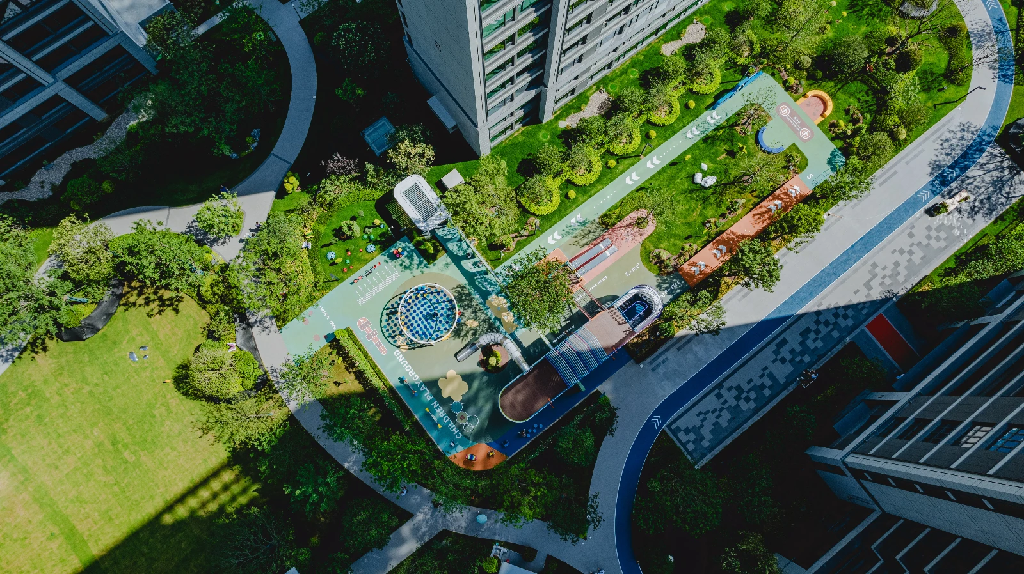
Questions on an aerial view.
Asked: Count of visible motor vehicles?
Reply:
0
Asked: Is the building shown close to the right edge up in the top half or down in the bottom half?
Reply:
bottom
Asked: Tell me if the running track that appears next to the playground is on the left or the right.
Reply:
right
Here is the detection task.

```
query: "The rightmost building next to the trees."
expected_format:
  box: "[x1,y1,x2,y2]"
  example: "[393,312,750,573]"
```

[792,300,1024,574]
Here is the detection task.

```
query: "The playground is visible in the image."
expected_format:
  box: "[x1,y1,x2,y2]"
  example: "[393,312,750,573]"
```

[280,75,844,471]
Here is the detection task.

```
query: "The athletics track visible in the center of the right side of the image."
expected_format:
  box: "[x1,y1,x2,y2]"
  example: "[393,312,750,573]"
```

[615,0,1014,570]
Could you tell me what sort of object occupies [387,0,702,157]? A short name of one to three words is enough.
building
